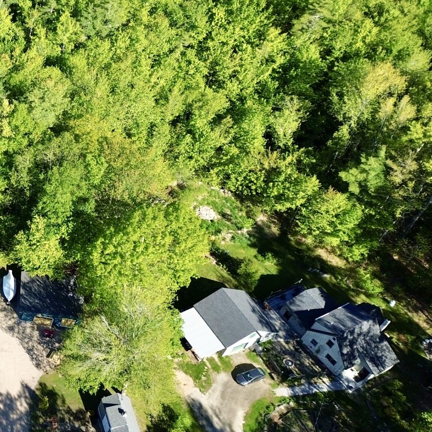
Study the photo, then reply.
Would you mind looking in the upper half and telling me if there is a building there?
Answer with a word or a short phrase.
No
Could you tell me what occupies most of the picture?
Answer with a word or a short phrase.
trees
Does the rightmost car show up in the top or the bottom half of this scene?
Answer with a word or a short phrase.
bottom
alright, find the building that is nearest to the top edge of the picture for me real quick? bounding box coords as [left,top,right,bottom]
[19,271,78,326]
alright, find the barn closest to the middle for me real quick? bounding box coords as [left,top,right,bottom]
[182,291,275,363]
